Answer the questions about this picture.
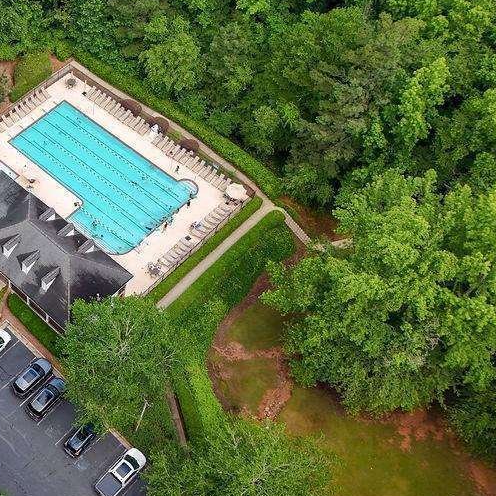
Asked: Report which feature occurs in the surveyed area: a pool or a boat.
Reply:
pool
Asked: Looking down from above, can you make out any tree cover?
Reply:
Yes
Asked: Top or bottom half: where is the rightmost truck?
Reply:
bottom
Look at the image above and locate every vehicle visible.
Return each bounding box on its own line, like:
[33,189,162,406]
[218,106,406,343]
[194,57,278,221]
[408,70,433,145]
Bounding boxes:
[61,420,105,460]
[10,357,54,400]
[23,379,69,422]
[92,445,150,496]
[0,327,16,353]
